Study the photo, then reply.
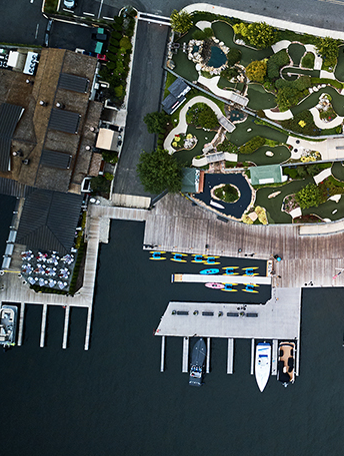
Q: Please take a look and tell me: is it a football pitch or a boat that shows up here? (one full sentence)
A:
Of the two, only a boat appears.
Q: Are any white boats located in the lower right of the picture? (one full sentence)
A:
Yes, a white boat appears in the lower right of the picture.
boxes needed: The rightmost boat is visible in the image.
[277,341,296,388]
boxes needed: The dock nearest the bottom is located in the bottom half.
[155,287,302,377]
